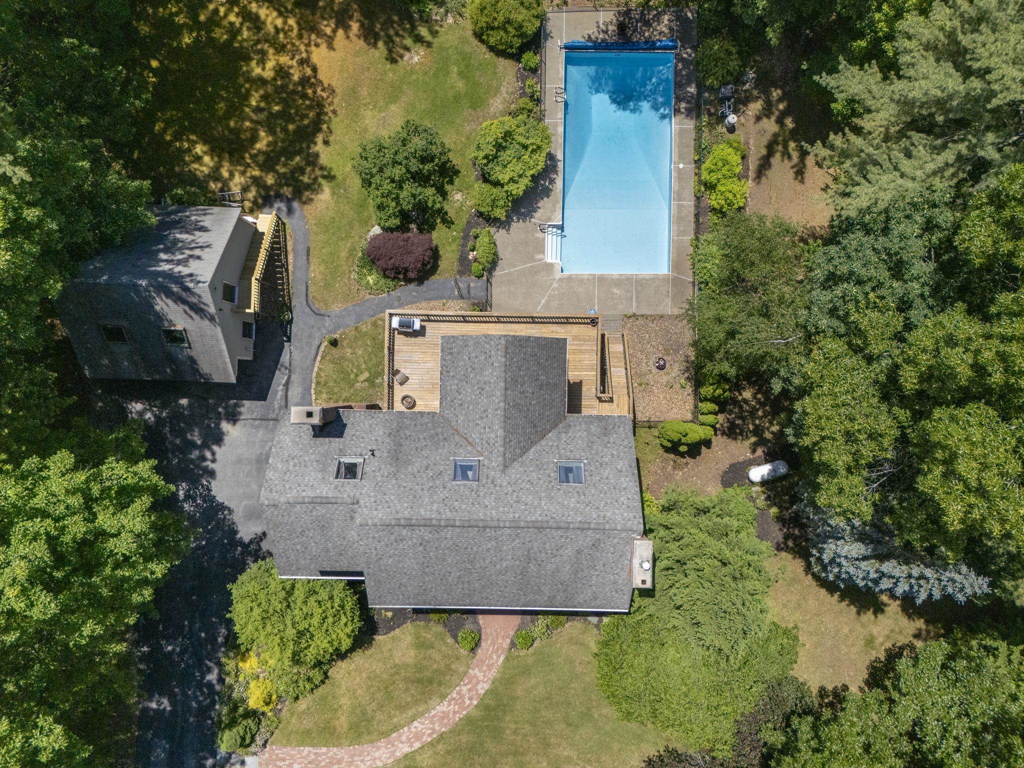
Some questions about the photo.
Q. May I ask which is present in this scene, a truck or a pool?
pool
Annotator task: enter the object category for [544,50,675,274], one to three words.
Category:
swimming pool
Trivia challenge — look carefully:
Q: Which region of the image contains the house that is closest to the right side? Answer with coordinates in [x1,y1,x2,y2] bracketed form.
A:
[259,334,653,614]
